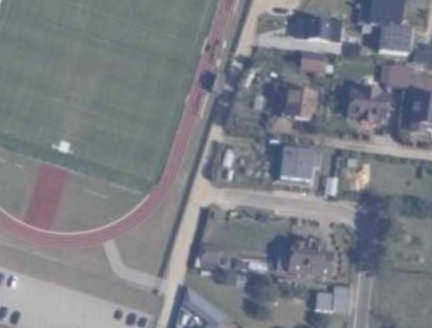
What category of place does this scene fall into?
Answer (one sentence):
The picture captures a sports ground.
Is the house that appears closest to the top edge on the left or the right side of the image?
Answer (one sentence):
You can find the house that appears closest to the top edge on the right side of the picture.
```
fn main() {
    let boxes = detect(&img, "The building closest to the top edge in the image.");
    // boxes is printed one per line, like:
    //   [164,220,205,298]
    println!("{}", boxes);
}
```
[369,0,405,25]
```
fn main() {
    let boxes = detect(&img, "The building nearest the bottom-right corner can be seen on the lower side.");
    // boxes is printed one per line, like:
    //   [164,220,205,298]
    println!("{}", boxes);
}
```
[333,286,351,315]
